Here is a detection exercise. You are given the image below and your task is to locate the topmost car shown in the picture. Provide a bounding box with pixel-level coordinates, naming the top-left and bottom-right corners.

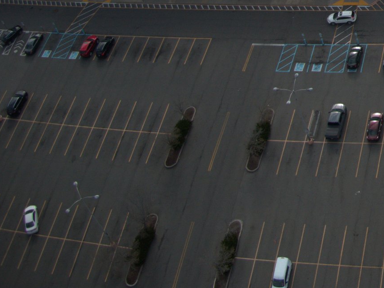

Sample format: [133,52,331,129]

[325,11,359,27]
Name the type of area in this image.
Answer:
parking lot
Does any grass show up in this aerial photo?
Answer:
No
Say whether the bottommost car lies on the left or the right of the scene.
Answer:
right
